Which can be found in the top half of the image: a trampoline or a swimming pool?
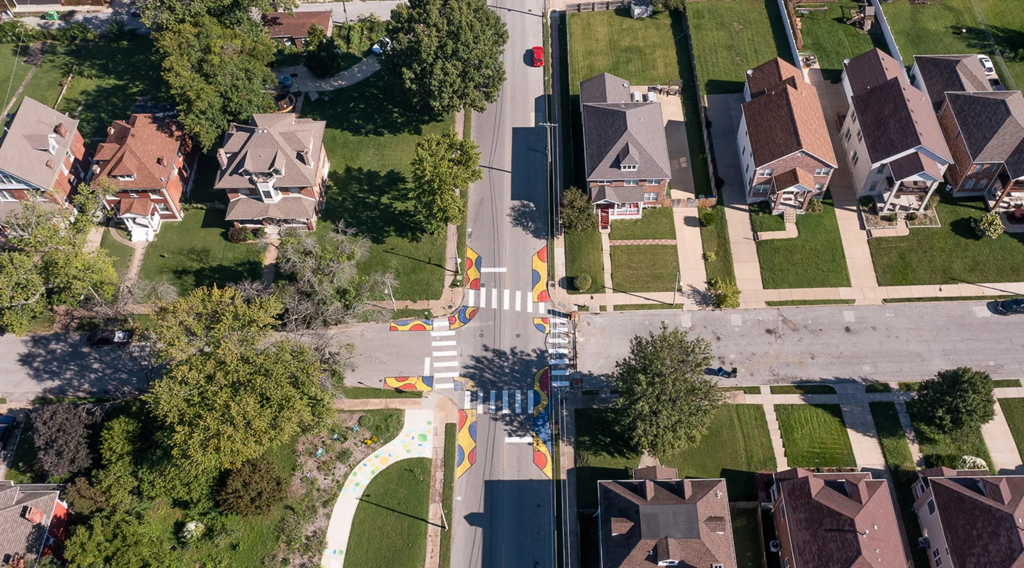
trampoline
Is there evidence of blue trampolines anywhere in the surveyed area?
No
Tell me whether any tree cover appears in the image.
Yes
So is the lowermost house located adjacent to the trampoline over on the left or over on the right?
left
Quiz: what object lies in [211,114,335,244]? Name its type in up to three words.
house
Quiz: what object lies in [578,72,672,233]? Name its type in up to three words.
house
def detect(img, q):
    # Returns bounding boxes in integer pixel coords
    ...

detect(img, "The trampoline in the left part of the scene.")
[266,82,300,114]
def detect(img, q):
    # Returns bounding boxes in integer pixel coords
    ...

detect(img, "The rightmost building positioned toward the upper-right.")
[911,55,1024,222]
